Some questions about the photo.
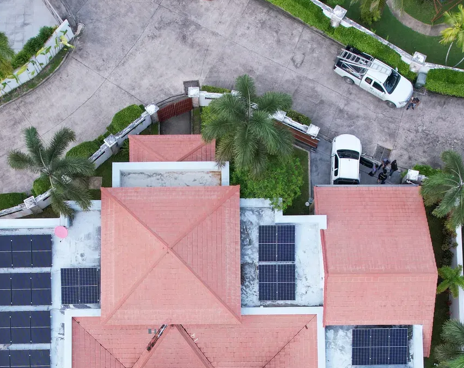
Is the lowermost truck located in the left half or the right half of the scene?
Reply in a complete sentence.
The lowermost truck sits on the right side.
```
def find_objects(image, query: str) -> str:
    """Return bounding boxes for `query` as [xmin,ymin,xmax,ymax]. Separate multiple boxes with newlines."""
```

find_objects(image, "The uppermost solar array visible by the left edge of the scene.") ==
[0,234,53,267]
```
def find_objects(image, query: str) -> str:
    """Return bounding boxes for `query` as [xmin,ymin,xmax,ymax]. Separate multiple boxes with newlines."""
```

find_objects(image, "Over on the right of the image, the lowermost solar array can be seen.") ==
[352,328,409,365]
